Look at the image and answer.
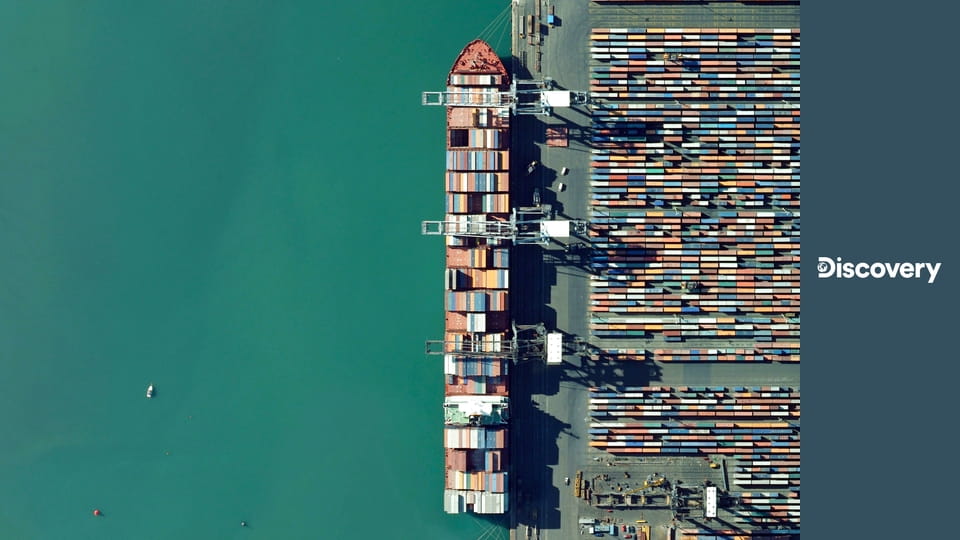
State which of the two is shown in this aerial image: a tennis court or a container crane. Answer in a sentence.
There is a container crane in the scene.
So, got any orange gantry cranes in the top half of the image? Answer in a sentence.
No, I can find no orange gantry crane in the top half of the image.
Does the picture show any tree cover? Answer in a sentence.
No, no tree cover is visible.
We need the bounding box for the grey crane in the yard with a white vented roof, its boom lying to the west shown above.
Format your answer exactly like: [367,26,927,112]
[672,478,740,532]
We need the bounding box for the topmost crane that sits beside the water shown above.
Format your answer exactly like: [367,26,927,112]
[425,75,588,119]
